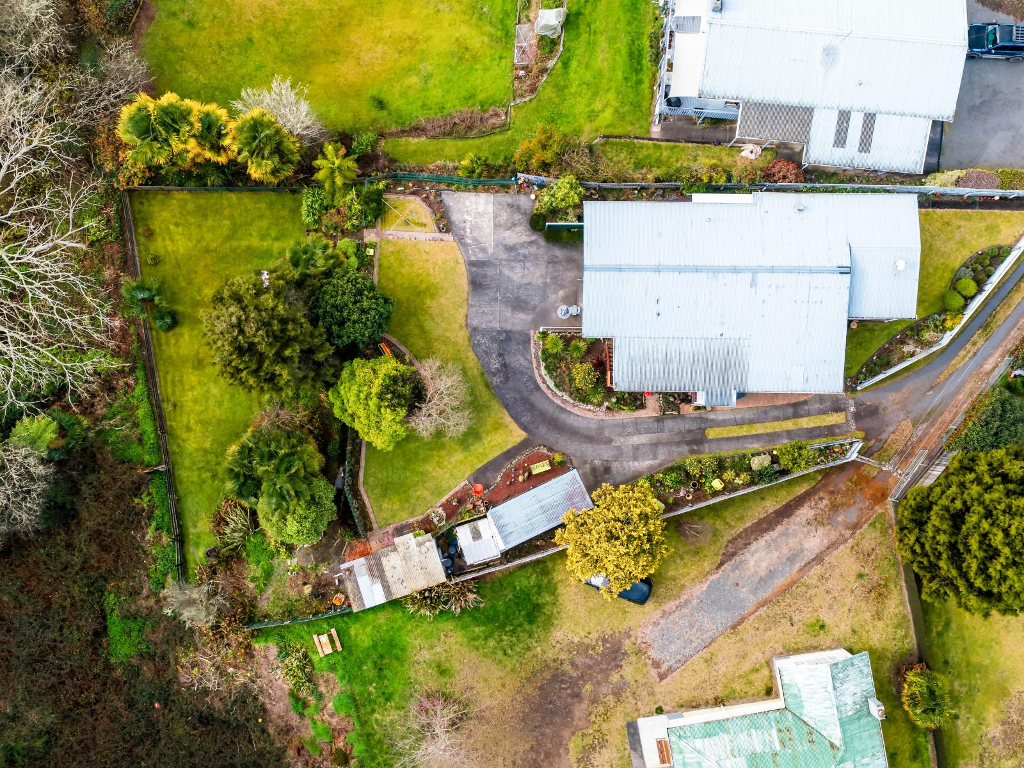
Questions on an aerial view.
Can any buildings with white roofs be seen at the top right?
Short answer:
Yes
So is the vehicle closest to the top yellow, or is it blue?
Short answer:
blue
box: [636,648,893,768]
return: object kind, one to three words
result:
house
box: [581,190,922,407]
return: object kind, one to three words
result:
house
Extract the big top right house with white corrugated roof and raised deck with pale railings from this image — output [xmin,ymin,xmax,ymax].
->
[655,0,980,176]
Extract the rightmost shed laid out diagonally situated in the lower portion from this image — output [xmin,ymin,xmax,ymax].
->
[487,468,592,553]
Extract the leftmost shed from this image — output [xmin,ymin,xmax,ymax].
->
[341,532,446,612]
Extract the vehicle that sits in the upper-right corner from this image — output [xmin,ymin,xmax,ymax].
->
[967,13,1024,61]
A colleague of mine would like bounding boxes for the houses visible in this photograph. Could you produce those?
[636,648,893,768]
[655,0,980,176]
[581,190,922,407]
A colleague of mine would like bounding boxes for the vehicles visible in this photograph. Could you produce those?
[577,569,655,609]
[967,13,1024,61]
